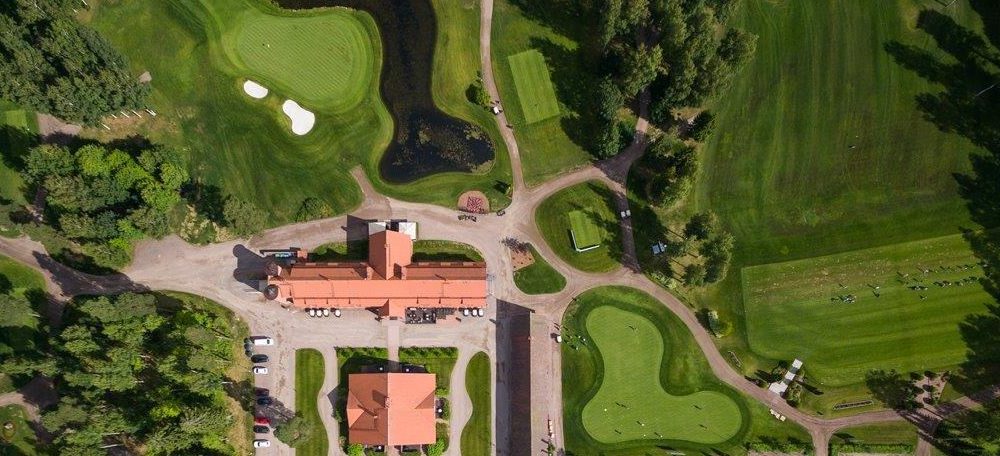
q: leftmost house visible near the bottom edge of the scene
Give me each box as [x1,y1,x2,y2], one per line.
[347,374,438,447]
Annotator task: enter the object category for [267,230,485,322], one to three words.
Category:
building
